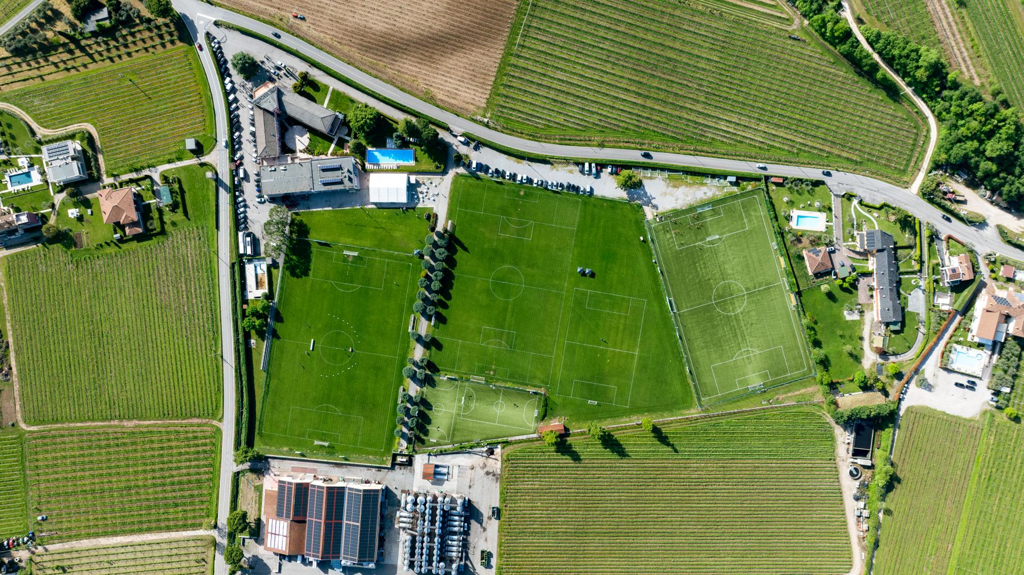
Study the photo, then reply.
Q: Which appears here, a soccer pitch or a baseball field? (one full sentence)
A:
I can see a soccer pitch in this picture.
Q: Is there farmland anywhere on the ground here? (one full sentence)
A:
Yes, there's farmland in this view.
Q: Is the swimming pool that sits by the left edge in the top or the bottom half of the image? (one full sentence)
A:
The swimming pool that sits by the left edge is in the top half of the image.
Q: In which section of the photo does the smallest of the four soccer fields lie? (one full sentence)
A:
The smallest of the four soccer fields is located in the center region of the scene.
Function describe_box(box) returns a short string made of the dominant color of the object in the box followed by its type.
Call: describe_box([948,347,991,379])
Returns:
white swimming pool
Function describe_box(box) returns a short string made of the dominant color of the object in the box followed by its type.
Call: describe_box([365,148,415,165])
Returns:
blue swimming pool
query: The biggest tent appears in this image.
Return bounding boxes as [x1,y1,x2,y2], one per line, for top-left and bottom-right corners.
[370,173,408,203]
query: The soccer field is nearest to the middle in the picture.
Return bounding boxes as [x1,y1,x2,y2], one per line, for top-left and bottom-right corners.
[427,178,585,389]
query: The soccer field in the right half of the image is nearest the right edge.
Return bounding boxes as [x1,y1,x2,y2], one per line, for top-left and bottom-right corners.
[647,187,814,406]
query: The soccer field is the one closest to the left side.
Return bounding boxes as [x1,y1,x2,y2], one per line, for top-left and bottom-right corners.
[259,241,417,454]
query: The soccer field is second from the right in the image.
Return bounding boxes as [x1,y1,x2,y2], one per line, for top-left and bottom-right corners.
[554,285,650,410]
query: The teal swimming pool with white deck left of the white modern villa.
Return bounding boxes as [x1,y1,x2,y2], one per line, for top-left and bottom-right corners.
[5,166,43,189]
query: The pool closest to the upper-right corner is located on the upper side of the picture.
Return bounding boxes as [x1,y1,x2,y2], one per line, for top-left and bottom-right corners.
[790,209,827,232]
